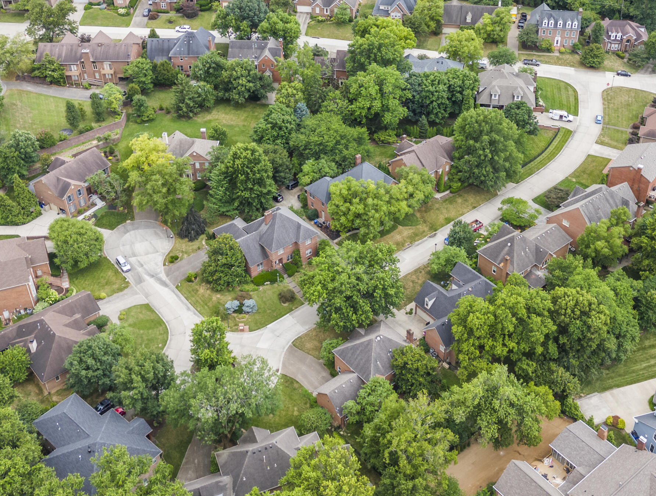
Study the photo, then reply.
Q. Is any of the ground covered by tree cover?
Yes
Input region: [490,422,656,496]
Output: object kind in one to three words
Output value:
house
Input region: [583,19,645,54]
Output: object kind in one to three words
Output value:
house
